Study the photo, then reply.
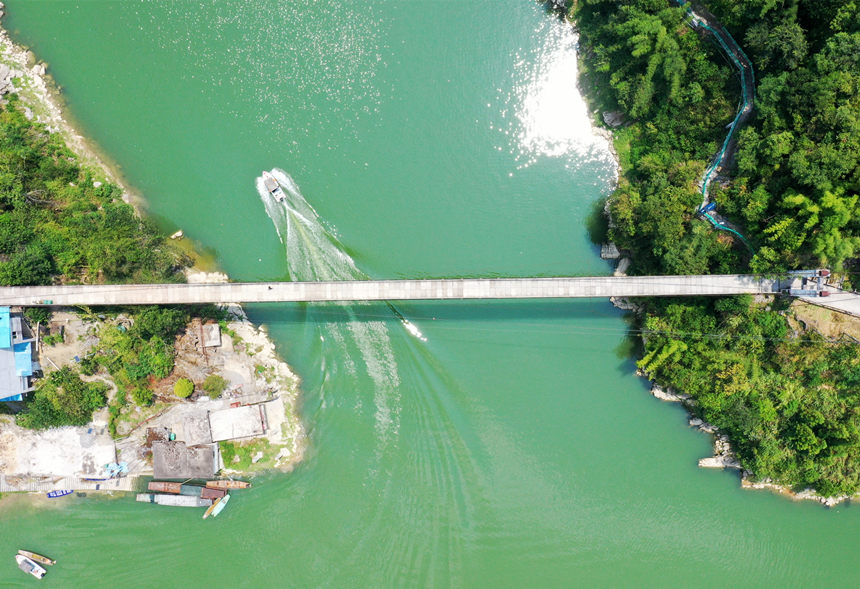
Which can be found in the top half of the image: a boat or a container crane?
boat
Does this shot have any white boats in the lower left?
Yes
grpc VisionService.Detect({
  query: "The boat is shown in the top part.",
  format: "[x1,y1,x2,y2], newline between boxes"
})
[263,171,285,203]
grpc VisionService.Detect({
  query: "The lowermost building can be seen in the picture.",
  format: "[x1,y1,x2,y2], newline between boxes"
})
[151,440,219,479]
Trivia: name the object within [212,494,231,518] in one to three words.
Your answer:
boat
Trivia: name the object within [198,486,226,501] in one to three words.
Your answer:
ship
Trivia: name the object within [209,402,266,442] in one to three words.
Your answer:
house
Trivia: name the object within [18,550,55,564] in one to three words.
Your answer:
boat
